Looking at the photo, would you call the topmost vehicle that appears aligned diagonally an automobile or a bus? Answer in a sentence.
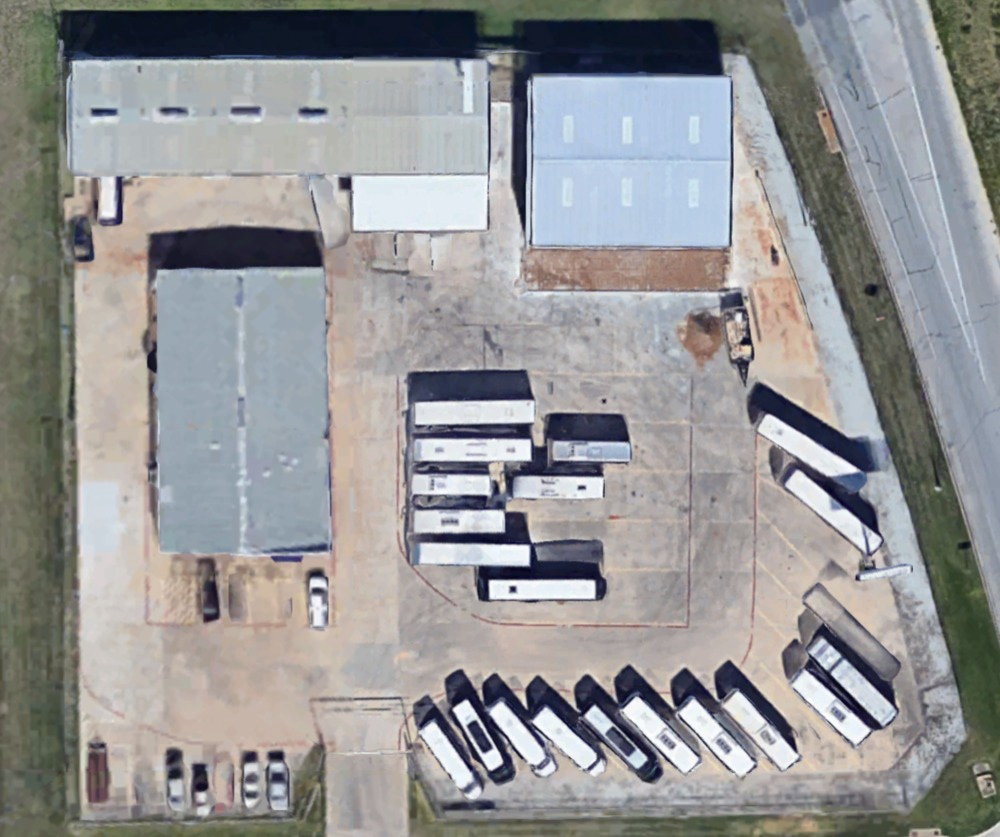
From above, the topmost vehicle that appears aligned diagonally can be identified as a bus.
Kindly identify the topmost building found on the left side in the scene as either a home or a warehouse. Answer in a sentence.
The topmost building found on the left side can be classified as a warehouse.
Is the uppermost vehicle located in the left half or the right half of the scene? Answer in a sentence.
It is on the left.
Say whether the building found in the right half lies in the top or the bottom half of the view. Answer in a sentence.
The building found in the right half sits in the top half of the picture.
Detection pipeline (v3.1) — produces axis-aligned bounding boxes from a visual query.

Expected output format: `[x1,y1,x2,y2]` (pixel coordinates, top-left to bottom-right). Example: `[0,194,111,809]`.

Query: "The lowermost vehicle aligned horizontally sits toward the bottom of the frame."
[476,577,604,605]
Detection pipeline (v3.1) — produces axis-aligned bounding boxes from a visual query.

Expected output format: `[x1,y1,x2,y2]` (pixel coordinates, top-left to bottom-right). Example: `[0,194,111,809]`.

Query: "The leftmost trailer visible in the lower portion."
[86,737,109,803]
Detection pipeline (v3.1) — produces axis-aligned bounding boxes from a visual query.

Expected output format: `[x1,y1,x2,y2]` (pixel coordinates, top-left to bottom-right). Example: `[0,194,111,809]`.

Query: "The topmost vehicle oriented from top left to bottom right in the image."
[753,414,866,500]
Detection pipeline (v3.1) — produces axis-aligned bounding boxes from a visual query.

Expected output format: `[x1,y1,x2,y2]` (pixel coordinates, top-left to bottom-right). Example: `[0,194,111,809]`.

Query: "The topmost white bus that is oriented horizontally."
[410,400,535,430]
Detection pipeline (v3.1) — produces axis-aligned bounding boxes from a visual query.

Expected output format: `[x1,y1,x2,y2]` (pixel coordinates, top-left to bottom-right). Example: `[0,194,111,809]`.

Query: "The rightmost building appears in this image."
[526,74,730,251]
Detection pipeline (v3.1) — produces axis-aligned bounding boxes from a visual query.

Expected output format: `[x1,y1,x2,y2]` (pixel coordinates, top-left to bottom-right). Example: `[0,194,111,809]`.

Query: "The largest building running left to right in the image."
[67,57,488,233]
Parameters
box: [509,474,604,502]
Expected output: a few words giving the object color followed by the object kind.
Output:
white bus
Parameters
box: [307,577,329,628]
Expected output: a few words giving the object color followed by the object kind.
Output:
white truck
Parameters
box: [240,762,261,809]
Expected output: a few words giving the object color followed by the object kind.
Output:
white car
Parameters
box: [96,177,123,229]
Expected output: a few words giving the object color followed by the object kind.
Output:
white vehicle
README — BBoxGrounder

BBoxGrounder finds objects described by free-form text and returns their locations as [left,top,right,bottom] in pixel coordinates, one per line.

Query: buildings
[67,57,488,233]
[156,268,331,561]
[526,74,730,251]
